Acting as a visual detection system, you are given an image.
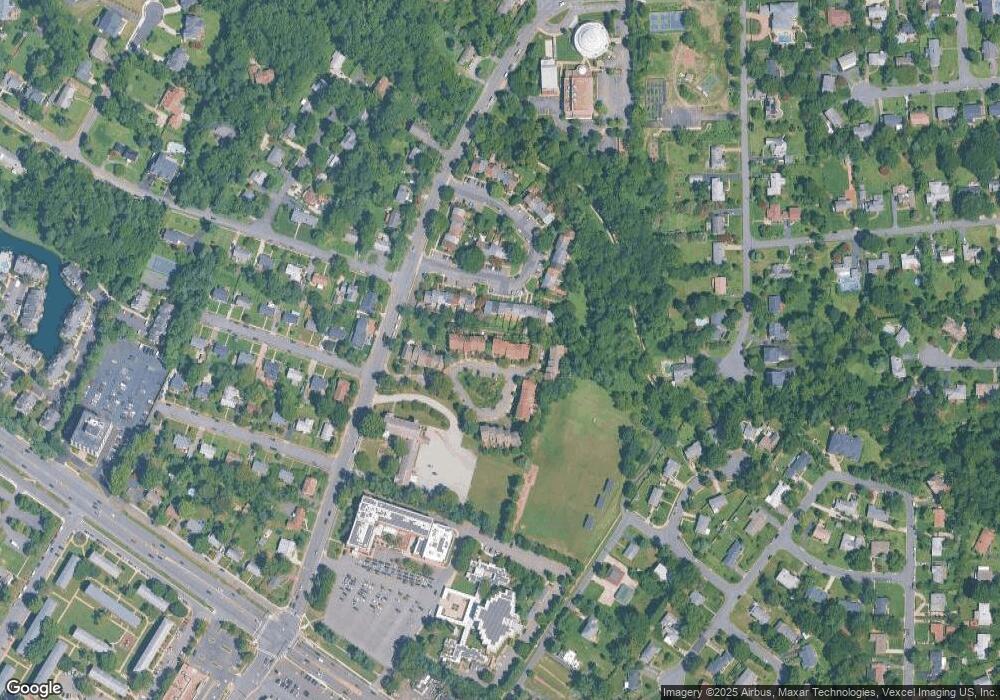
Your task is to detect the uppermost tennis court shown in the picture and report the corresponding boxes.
[650,11,685,32]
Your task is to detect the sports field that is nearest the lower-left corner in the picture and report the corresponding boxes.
[466,455,521,526]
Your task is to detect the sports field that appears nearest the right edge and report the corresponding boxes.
[513,378,624,561]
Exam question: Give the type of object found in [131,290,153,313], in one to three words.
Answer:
building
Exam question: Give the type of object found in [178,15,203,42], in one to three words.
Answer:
house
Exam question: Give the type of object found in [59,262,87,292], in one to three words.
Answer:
building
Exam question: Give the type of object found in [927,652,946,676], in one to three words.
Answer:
house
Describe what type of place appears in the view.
residential area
